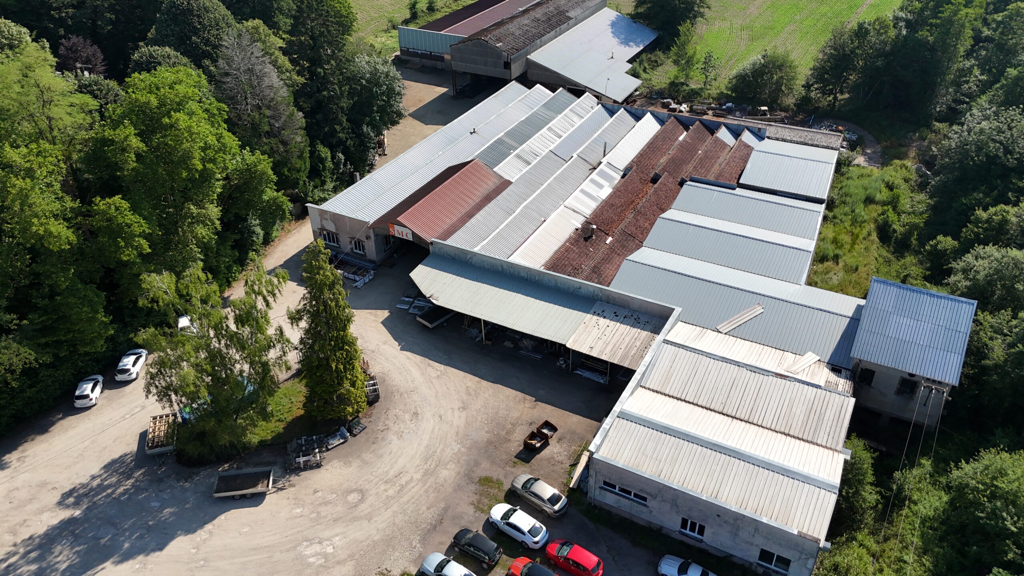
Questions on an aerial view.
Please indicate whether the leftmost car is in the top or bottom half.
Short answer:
bottom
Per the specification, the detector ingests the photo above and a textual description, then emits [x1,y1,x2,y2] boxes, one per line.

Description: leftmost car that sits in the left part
[70,377,108,411]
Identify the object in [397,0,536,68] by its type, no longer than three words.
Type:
shed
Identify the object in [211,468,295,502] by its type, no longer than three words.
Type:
trailer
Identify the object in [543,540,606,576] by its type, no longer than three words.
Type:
car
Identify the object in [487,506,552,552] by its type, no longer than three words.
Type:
car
